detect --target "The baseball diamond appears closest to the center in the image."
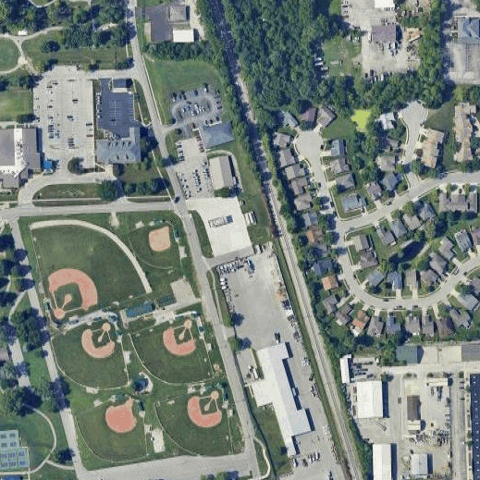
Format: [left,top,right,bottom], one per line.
[129,220,186,270]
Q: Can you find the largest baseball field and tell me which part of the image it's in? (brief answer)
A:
left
